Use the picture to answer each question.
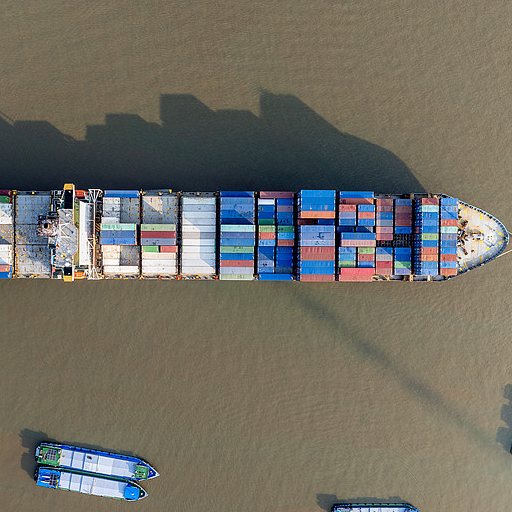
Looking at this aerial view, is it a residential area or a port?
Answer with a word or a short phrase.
port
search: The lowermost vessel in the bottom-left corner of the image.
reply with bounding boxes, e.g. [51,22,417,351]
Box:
[34,465,148,499]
